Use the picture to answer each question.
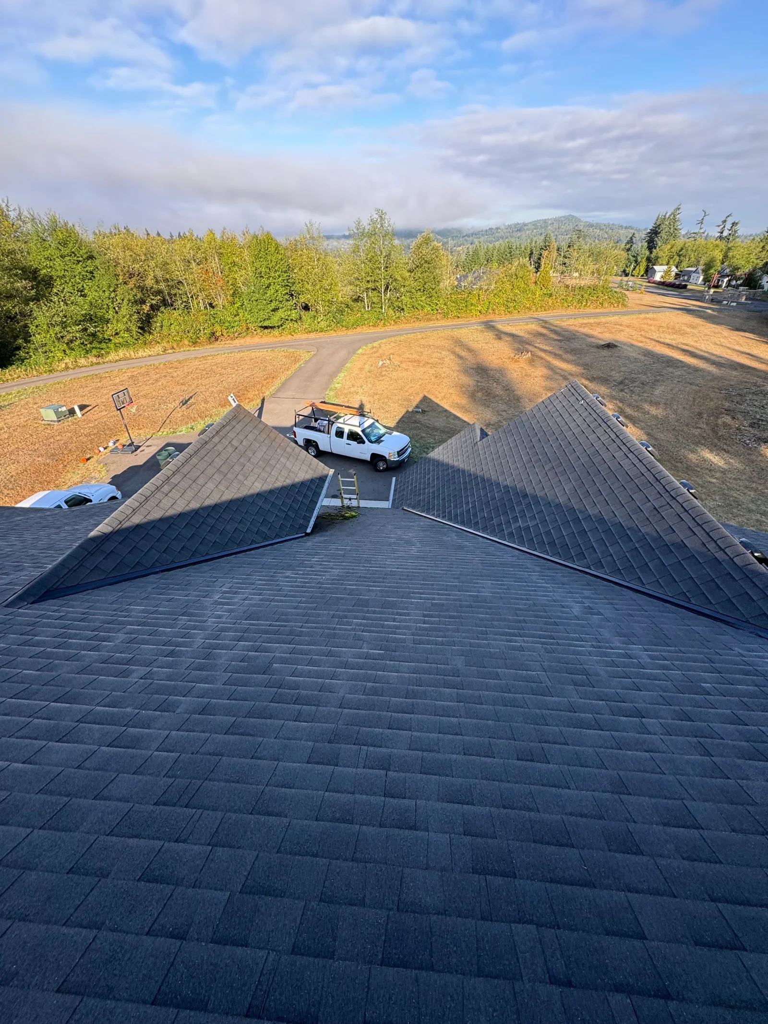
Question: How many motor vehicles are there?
2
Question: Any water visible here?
No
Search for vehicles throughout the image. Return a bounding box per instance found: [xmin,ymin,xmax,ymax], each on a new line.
[284,405,416,472]
[15,483,129,508]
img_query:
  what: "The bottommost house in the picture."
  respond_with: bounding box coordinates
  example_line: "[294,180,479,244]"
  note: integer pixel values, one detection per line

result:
[0,380,768,1024]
